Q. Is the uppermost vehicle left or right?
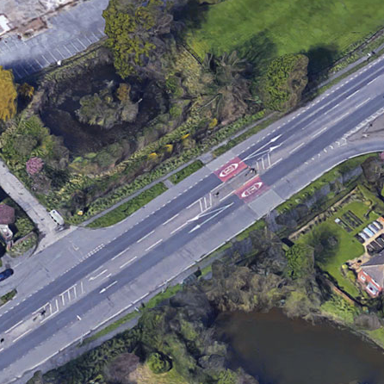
left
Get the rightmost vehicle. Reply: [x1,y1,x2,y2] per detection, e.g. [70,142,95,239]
[45,205,67,230]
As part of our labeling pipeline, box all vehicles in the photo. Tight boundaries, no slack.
[45,205,67,230]
[0,268,13,282]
